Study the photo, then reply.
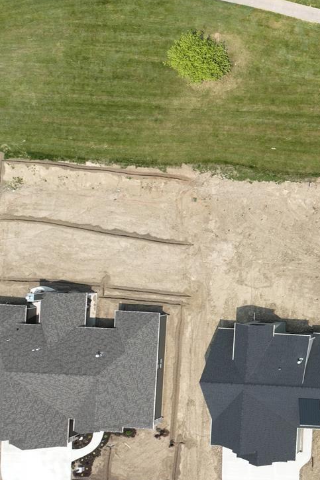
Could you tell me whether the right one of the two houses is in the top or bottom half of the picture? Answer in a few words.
bottom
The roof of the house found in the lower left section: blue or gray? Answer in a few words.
gray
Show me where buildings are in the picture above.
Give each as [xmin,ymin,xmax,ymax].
[0,292,164,452]
[199,322,320,467]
